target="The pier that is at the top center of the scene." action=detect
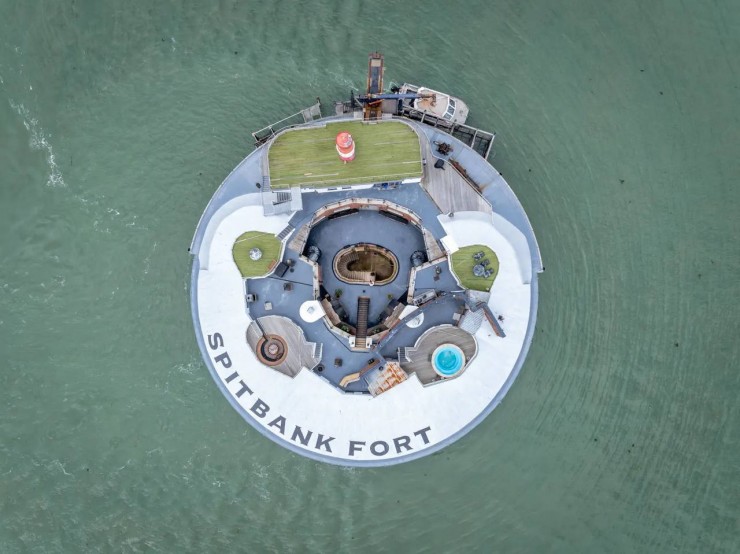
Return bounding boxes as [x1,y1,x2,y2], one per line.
[399,106,499,160]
